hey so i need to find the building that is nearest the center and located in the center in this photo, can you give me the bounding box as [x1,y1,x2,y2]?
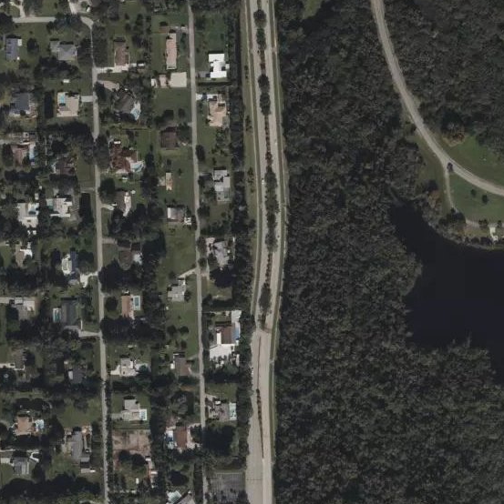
[203,237,230,265]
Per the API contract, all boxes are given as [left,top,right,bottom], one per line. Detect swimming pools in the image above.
[133,296,141,311]
[53,308,61,324]
[234,321,240,341]
[135,363,151,373]
[35,420,44,432]
[130,101,141,120]
[230,404,237,421]
[130,159,145,173]
[29,203,38,216]
[29,143,35,160]
[168,491,180,504]
[58,92,64,110]
[166,437,174,448]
